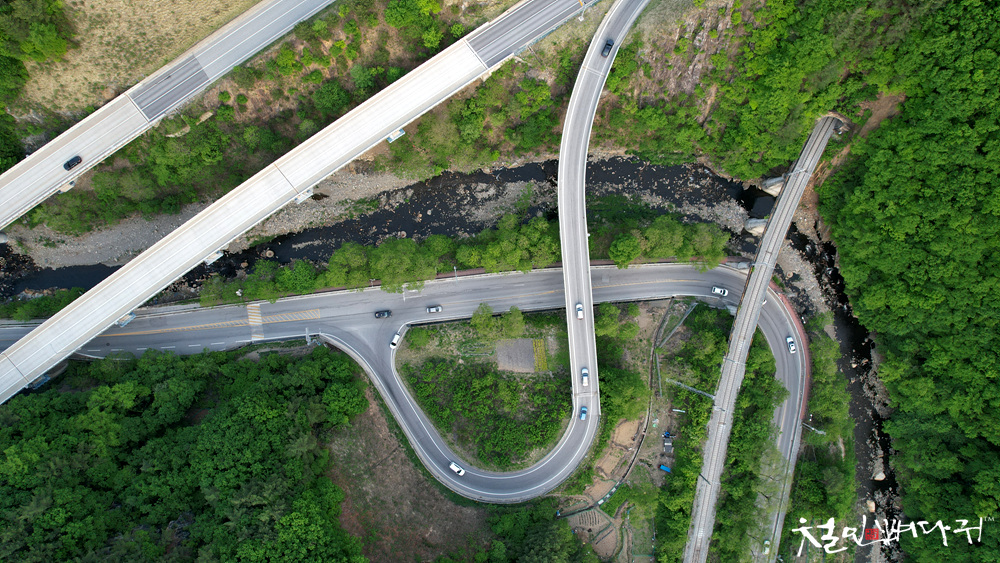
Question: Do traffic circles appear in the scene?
No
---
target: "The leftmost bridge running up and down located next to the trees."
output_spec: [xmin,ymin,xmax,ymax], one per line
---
[559,62,608,395]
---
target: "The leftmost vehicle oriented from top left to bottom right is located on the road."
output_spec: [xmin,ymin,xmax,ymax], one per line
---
[449,462,466,476]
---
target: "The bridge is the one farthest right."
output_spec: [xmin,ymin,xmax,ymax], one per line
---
[712,123,838,405]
